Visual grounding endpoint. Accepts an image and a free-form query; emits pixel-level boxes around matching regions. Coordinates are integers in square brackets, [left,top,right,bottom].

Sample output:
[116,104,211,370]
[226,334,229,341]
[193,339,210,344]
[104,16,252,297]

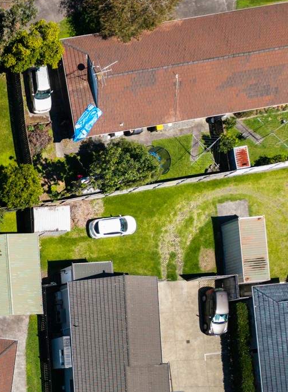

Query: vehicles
[85,213,135,240]
[27,65,56,116]
[201,288,230,336]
